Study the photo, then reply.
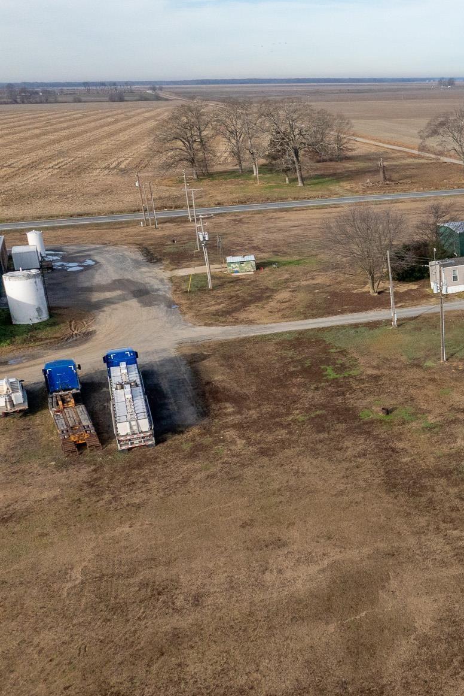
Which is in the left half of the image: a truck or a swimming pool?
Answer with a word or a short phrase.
truck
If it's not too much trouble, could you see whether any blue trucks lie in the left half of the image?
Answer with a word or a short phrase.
Yes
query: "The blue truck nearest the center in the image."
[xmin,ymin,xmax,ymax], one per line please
[103,351,144,385]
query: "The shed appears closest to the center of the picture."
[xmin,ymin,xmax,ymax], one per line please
[224,252,258,274]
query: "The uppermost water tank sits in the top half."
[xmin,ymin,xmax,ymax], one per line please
[26,229,56,262]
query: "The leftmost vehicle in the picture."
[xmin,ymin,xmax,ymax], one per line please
[0,375,32,419]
